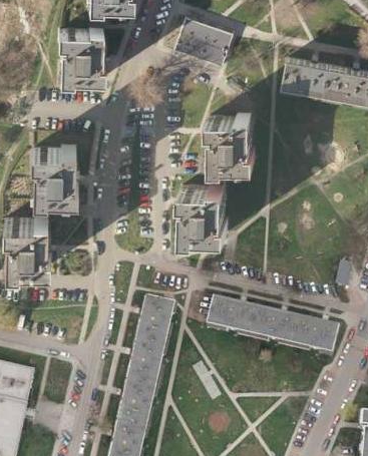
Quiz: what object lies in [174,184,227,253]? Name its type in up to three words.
building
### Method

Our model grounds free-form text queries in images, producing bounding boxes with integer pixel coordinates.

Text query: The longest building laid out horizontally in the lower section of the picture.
[208,292,340,351]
